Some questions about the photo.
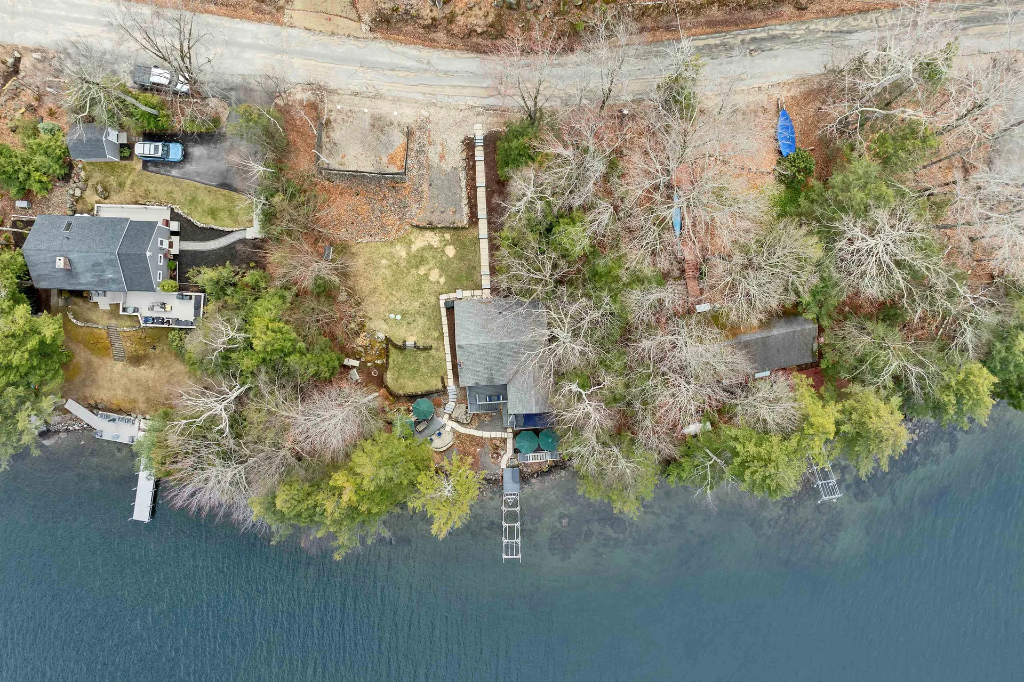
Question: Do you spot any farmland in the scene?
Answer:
No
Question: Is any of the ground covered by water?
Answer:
Yes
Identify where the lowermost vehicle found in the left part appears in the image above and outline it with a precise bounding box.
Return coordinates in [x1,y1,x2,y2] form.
[128,137,182,163]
